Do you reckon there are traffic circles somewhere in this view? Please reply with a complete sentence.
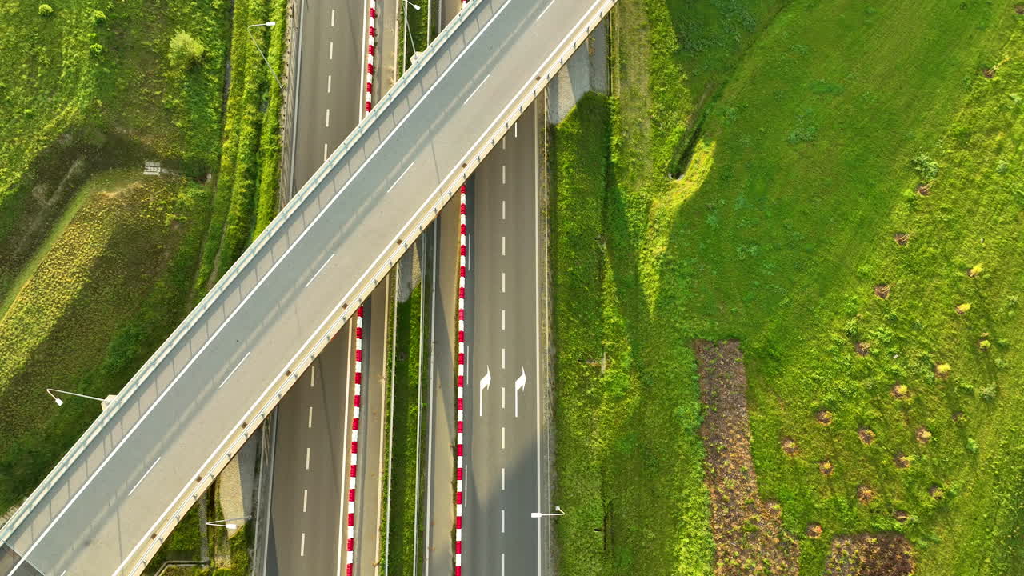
No, I can see no traffic circle in this picture.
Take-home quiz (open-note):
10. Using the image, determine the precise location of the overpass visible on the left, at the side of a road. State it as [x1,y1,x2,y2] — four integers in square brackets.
[0,0,619,576]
